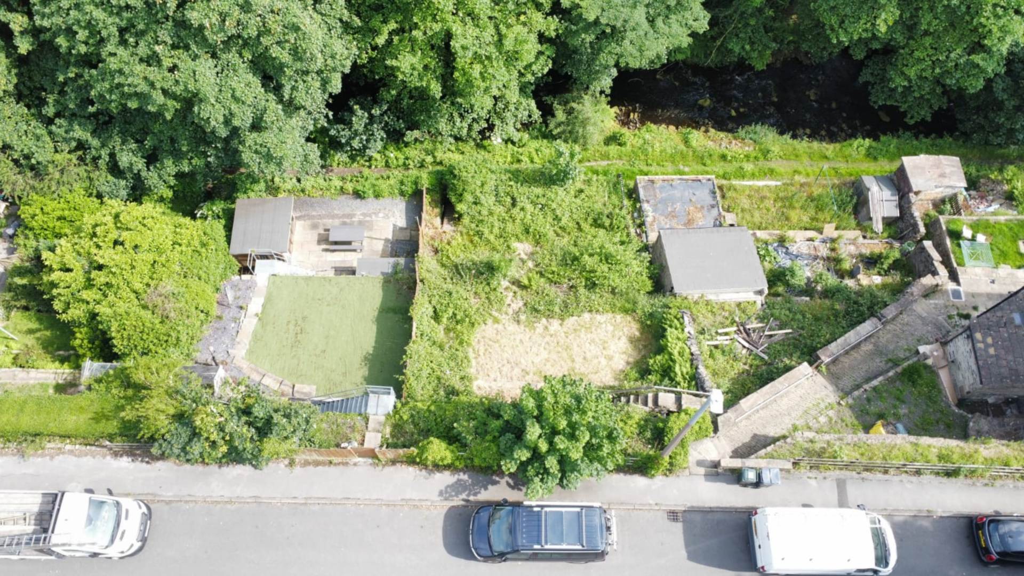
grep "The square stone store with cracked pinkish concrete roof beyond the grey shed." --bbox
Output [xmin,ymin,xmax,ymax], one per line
[888,154,967,212]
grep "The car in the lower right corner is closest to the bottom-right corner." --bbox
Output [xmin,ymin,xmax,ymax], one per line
[972,513,1024,565]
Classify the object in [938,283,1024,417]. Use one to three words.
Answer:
house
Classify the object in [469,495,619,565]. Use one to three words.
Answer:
van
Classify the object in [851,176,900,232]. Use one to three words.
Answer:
shed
